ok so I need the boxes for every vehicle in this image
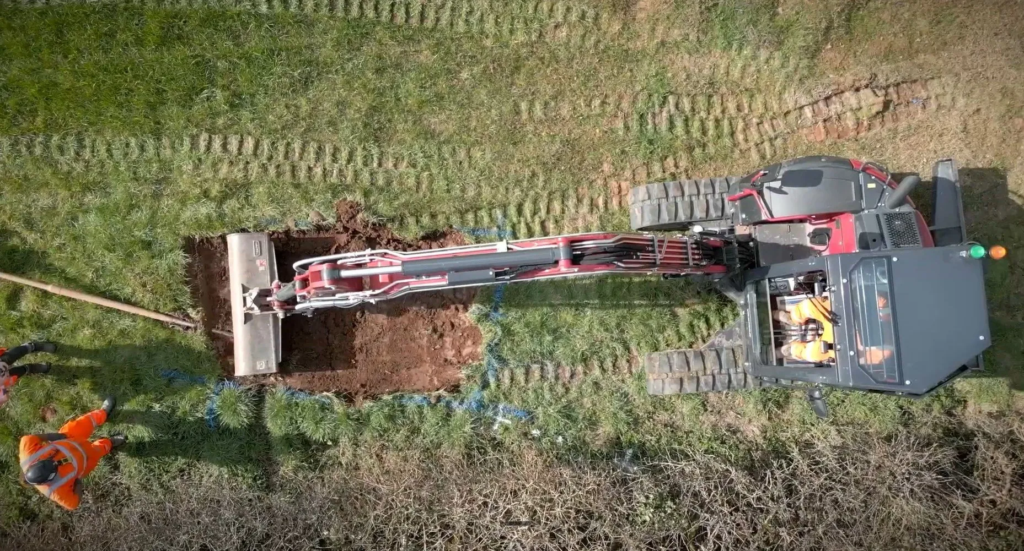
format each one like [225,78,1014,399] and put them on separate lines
[227,151,1006,420]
